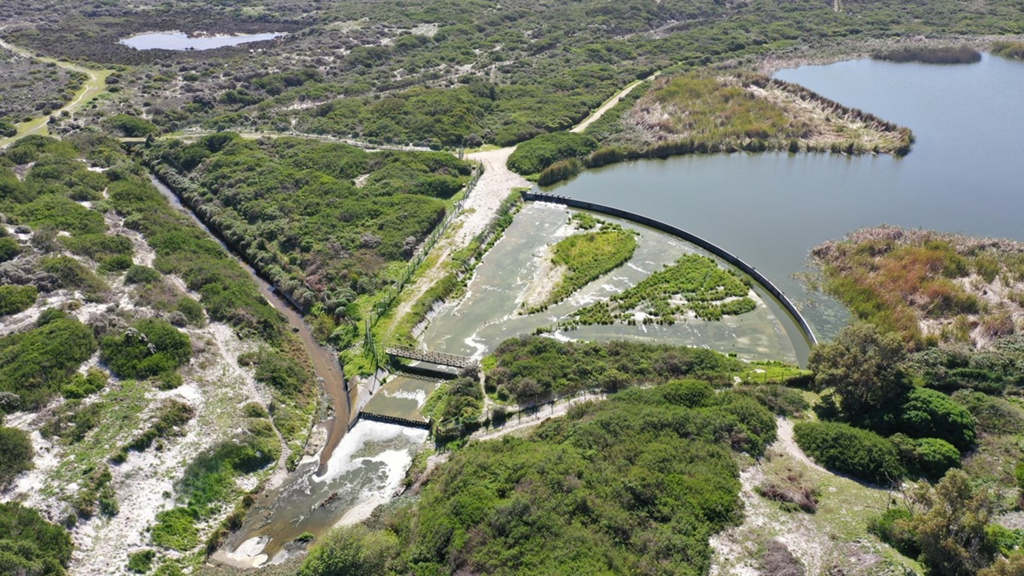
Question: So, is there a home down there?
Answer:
No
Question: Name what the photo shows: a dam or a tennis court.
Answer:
dam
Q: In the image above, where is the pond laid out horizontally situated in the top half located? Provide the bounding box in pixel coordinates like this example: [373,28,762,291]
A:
[121,31,285,49]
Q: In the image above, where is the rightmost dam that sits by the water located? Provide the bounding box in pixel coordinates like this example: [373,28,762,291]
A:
[510,193,828,371]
